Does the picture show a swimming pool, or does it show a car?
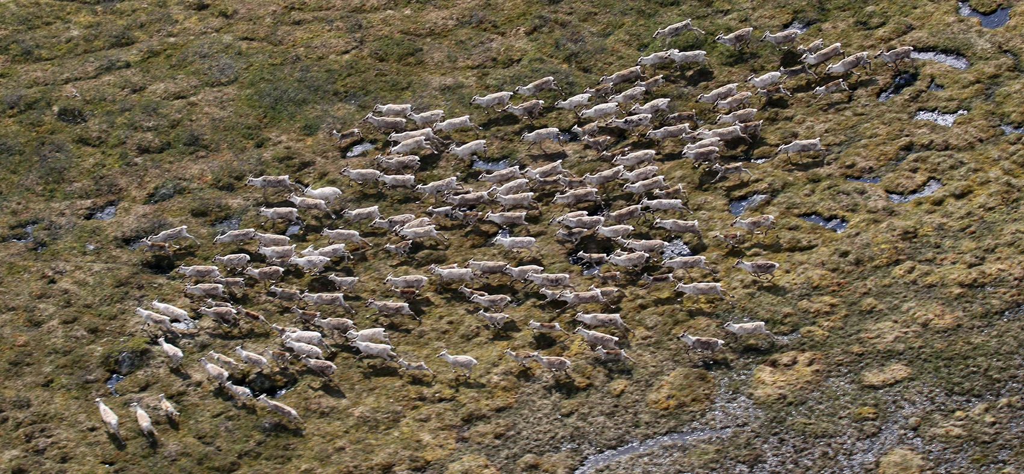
swimming pool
